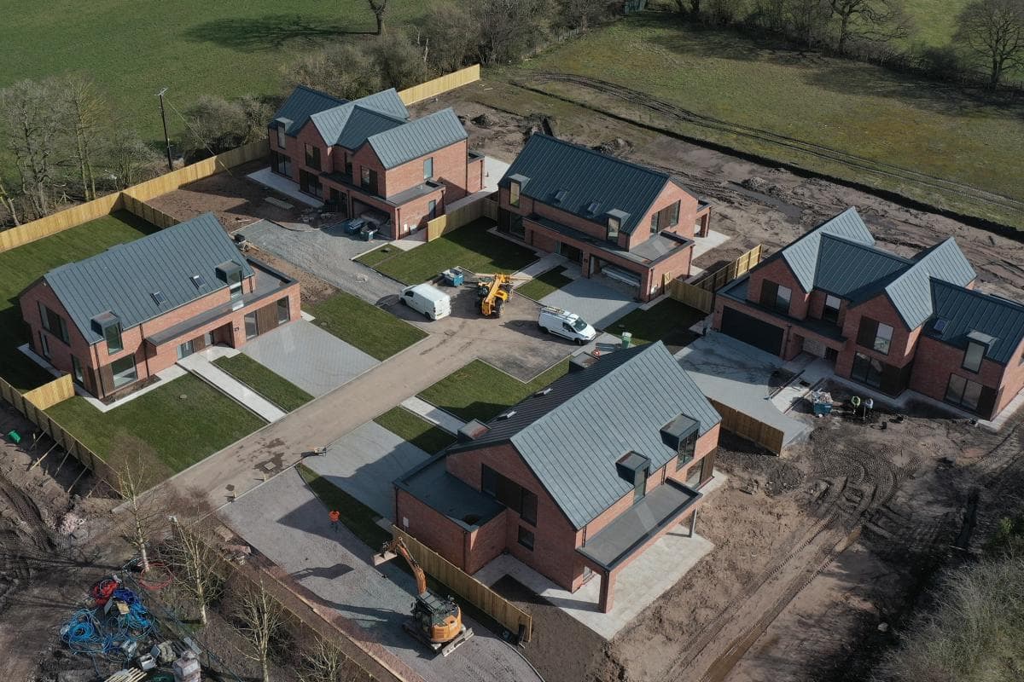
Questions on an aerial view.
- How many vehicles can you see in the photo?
4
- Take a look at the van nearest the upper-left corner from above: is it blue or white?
white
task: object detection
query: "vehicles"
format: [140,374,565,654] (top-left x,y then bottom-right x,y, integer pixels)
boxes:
[378,533,474,655]
[399,280,453,320]
[472,267,516,312]
[535,297,598,342]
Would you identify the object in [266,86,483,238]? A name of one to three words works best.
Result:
house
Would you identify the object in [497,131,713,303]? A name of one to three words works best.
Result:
house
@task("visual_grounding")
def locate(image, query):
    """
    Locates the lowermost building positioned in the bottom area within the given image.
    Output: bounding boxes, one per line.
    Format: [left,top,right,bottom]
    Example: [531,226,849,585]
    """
[394,340,723,612]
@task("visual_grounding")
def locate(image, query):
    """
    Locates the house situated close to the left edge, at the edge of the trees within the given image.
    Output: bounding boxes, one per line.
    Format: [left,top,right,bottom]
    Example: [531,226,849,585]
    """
[13,209,304,401]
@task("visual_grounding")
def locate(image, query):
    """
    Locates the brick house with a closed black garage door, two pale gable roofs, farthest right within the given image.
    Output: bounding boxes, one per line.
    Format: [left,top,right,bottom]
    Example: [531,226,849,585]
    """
[714,205,1024,421]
